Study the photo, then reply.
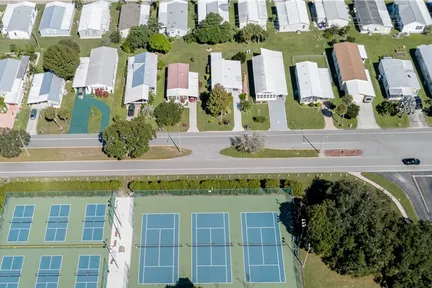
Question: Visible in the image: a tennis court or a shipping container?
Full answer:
Visible in the photo is a tennis court.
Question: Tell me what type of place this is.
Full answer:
It's a residential area.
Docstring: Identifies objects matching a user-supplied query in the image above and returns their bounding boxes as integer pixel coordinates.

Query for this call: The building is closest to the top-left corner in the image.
[1,2,36,37]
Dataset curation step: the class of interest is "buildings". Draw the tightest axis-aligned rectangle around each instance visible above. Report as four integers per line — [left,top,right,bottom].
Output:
[198,0,229,28]
[275,0,309,30]
[251,49,287,99]
[158,1,188,36]
[28,74,66,108]
[124,54,157,107]
[0,56,31,109]
[238,0,267,28]
[333,43,373,101]
[392,0,432,30]
[118,4,149,35]
[379,60,420,102]
[295,61,334,102]
[1,2,36,37]
[78,2,111,36]
[211,52,241,95]
[314,0,349,26]
[353,0,392,31]
[39,2,75,35]
[416,46,432,89]
[166,62,198,101]
[73,46,116,92]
